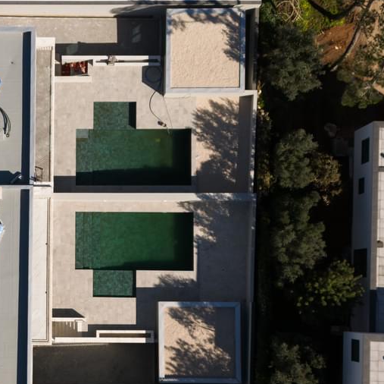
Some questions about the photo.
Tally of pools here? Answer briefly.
2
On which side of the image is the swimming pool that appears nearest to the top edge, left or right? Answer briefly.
left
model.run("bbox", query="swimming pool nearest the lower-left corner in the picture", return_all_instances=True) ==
[76,212,194,297]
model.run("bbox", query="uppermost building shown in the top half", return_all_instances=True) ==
[161,8,254,97]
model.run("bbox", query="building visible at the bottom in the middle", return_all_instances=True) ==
[154,302,242,383]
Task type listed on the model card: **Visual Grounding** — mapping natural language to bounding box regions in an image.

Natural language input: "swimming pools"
[76,102,192,185]
[76,212,194,297]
